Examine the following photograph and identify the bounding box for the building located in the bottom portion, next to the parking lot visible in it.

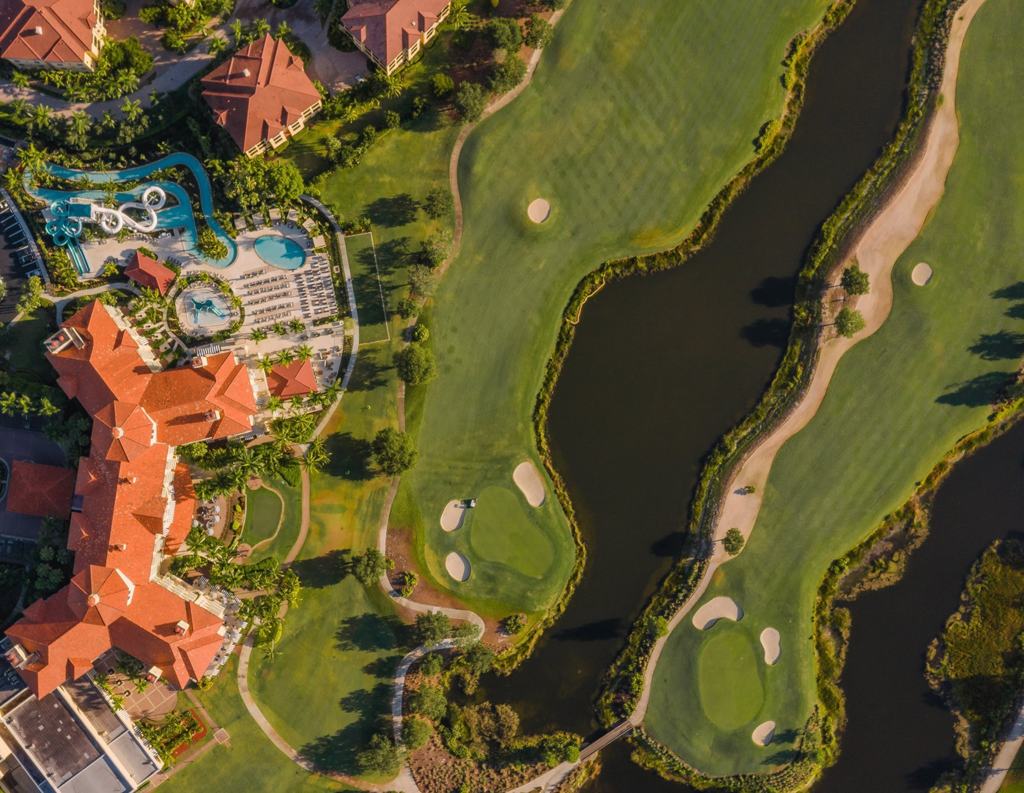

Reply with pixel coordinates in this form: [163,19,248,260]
[1,298,265,701]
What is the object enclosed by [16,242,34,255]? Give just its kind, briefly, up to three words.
vehicle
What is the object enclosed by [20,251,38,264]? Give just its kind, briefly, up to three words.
vehicle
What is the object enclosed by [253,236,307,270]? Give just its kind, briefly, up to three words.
swimming pool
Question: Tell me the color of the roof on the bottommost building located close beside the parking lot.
orange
